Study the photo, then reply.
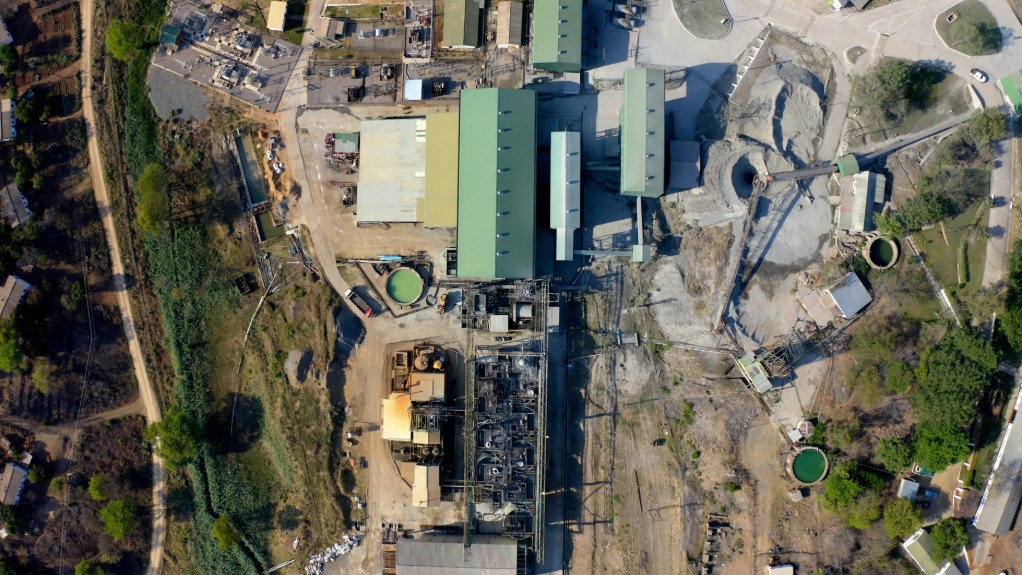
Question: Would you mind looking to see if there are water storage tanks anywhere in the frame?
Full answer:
Yes, the picture does show a water storage tank.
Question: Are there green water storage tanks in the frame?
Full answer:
Yes, a green water storage tank appears in the view.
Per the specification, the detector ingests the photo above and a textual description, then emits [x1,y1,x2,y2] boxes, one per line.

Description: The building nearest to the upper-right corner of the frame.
[993,73,1022,114]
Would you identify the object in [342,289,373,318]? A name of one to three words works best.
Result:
truck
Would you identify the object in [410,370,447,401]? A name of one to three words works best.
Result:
house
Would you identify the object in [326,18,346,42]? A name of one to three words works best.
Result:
shed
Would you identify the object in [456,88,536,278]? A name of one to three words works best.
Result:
building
